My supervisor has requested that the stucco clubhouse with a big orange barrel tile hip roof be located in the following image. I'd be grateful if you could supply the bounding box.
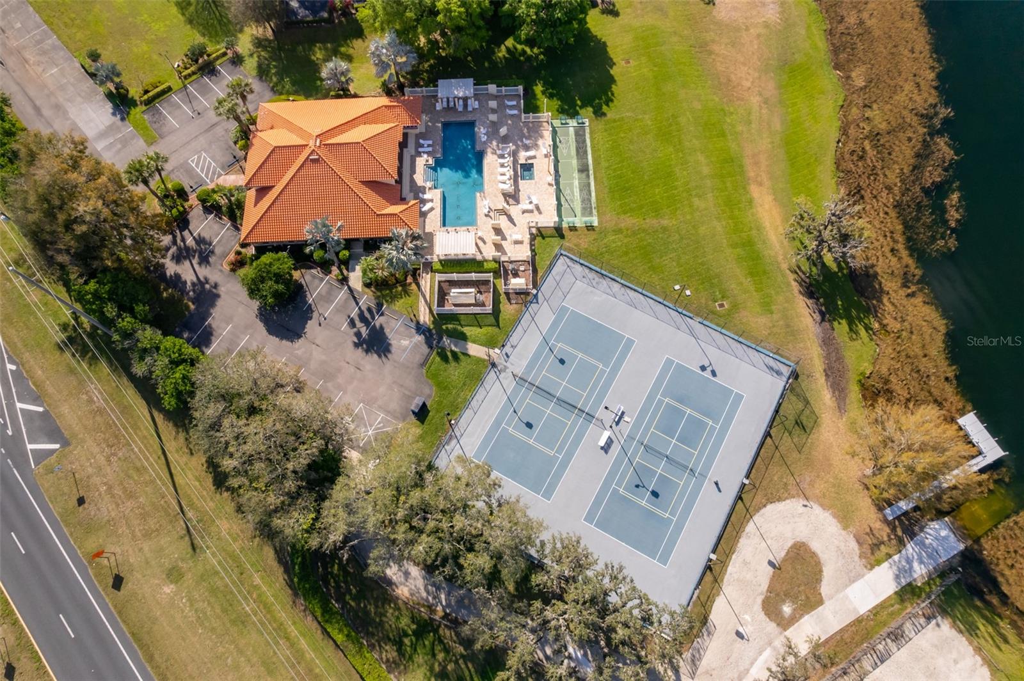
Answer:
[240,94,433,249]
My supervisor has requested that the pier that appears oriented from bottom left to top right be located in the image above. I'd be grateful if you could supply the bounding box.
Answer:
[883,408,1015,521]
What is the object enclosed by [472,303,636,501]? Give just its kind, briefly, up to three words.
tennis court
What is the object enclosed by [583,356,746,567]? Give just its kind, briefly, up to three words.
tennis court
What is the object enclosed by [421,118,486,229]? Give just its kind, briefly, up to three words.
swimming pool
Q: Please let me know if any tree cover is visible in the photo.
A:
Yes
